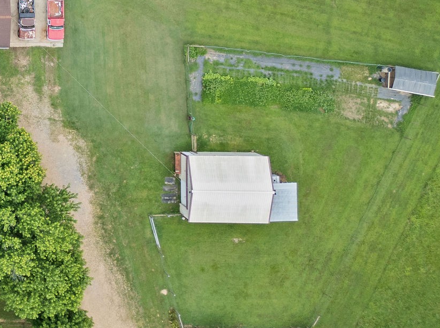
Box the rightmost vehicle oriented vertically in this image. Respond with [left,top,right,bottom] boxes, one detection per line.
[46,0,65,44]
